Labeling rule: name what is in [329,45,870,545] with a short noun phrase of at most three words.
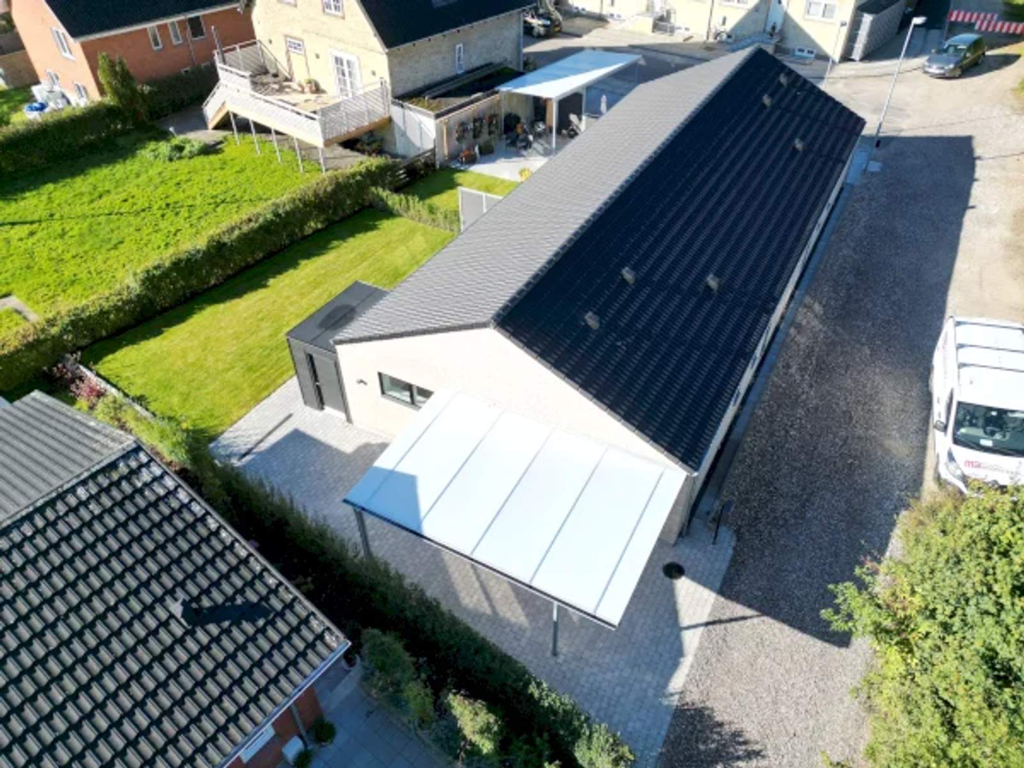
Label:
house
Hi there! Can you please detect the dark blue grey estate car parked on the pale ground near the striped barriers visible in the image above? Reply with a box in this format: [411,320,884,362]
[929,30,988,75]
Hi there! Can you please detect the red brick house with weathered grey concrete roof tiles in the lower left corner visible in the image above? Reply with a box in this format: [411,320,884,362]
[0,392,350,768]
